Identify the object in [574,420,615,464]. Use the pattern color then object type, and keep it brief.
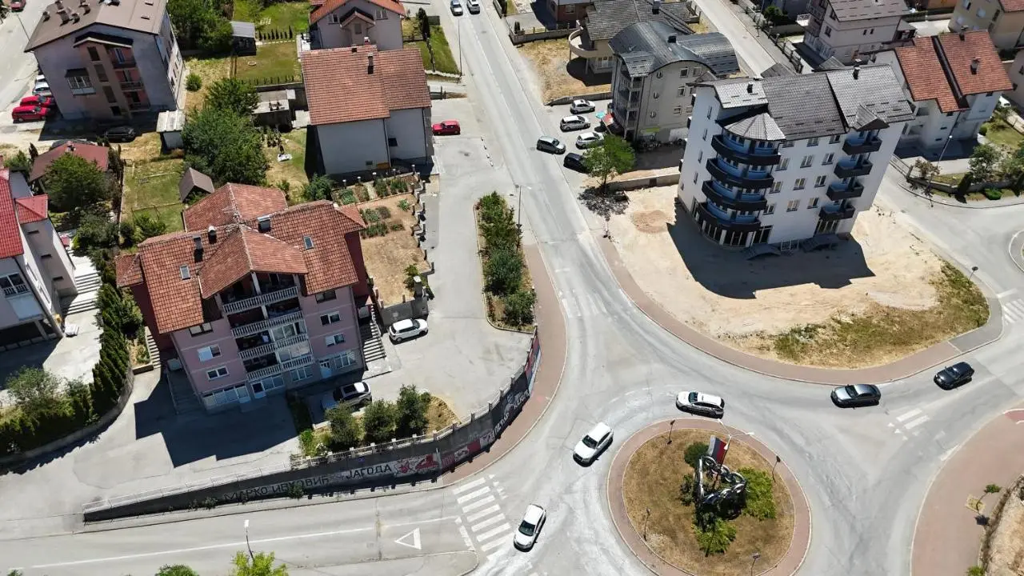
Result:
white car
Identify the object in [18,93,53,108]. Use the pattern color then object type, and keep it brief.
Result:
red car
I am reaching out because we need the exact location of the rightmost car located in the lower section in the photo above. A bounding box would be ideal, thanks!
[931,360,981,391]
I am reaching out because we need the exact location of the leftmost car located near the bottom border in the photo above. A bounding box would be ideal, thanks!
[512,500,549,552]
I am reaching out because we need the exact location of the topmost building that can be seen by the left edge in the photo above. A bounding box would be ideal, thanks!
[24,0,189,119]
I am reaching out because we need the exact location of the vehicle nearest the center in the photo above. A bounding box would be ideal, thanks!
[385,316,431,343]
